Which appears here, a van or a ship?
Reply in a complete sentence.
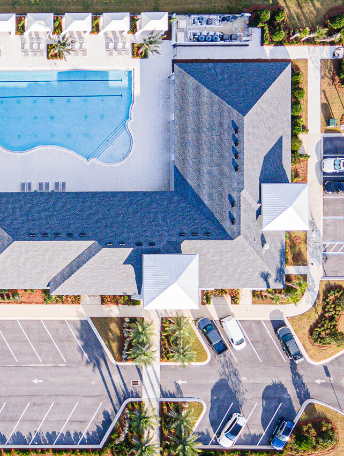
This aerial view contains a van.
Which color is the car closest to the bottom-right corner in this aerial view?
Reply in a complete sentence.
In this view, the car closest to the bottom-right corner is blue.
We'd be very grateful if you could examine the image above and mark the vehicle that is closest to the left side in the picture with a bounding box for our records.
[197,315,228,356]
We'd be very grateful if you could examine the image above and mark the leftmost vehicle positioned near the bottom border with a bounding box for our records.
[218,411,245,446]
